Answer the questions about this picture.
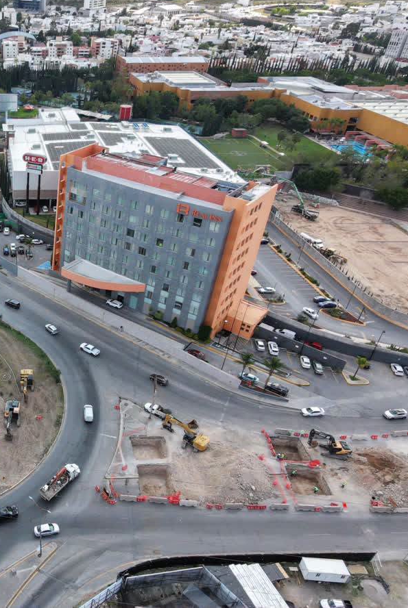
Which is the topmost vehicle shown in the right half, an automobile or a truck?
truck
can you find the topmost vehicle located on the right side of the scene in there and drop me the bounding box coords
[241,170,316,218]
